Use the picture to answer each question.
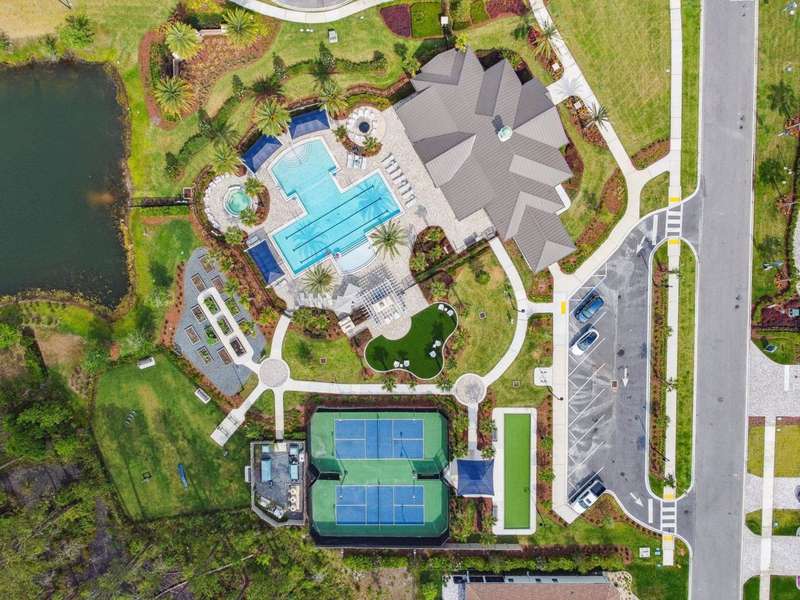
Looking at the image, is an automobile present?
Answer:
Yes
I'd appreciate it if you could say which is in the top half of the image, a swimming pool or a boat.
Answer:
swimming pool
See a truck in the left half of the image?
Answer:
No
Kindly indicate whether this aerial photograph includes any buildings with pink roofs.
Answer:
No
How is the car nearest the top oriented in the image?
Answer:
diagonally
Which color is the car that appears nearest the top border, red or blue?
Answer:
blue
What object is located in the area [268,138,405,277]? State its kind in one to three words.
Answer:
swimming pool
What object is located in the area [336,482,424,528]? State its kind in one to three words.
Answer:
sports court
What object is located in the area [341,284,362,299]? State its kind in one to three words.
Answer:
umbrella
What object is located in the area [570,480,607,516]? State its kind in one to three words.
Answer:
truck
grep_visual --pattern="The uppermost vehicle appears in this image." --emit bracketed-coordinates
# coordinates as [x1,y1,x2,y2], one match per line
[576,294,606,323]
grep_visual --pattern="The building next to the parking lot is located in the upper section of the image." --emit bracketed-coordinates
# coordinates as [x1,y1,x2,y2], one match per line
[393,45,577,272]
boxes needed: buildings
[393,45,577,272]
[464,569,615,600]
